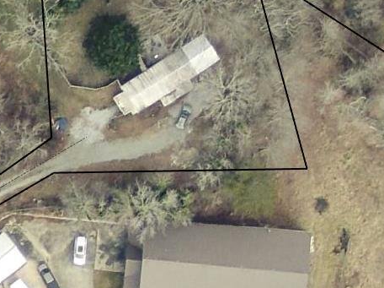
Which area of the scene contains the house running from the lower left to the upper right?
top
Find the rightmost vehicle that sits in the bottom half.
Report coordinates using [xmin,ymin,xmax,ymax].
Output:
[73,236,86,266]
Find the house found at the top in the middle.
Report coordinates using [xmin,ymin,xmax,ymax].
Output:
[115,34,220,118]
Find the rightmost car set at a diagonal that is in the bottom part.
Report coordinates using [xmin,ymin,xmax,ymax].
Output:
[37,262,60,288]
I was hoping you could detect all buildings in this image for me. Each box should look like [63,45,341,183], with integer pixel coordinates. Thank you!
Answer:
[124,223,312,288]
[0,233,26,282]
[115,34,220,118]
